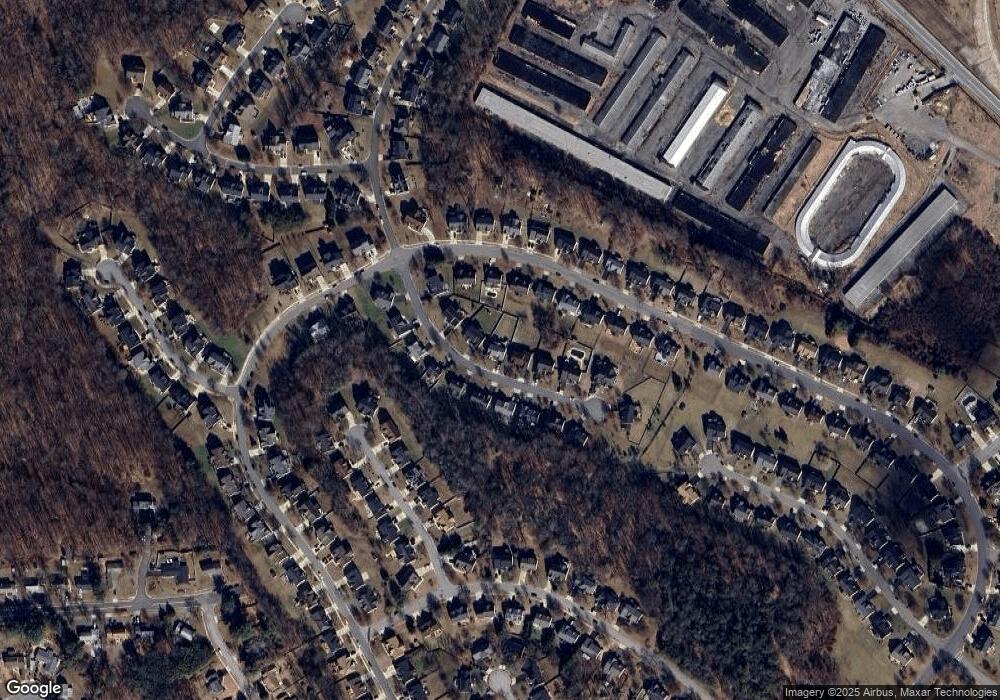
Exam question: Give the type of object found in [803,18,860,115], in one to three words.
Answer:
barn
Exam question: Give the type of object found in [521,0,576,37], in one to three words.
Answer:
barn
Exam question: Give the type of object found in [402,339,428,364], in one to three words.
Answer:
house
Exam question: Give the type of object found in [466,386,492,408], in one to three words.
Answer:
house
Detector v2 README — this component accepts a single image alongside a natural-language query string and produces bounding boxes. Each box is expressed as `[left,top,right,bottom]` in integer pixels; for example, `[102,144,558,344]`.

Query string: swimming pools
[960,392,978,407]
[485,290,498,299]
[569,348,586,360]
